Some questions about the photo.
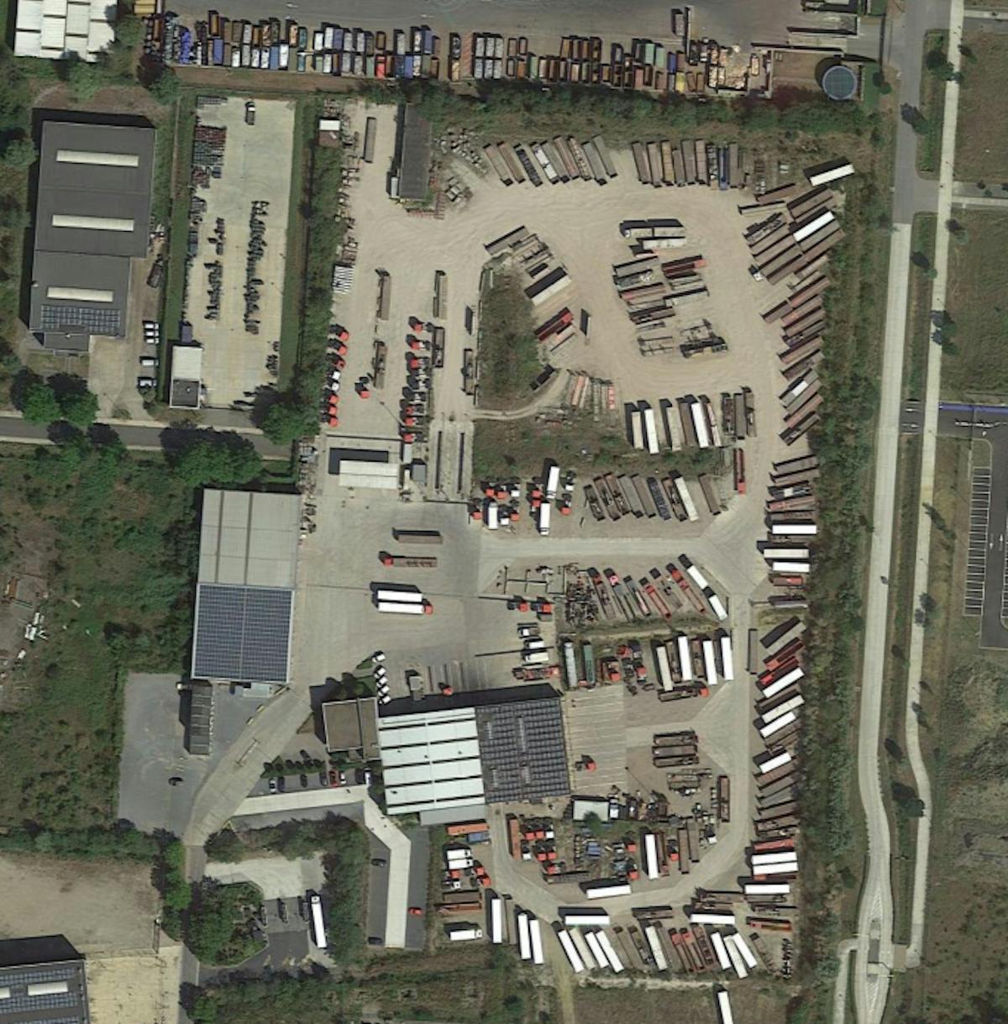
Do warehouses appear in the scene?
Yes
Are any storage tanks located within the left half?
No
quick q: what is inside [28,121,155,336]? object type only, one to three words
warehouse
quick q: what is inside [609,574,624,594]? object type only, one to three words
vehicle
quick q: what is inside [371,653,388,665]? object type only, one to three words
vehicle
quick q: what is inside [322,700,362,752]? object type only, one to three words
building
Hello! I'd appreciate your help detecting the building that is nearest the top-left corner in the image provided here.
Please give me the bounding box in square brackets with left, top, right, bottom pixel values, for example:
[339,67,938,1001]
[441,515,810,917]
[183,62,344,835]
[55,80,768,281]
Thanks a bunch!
[13,0,116,57]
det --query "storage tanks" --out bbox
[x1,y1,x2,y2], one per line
[823,64,858,100]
